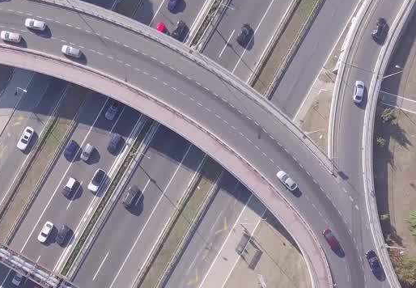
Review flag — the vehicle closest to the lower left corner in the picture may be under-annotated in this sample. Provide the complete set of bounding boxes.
[11,274,24,288]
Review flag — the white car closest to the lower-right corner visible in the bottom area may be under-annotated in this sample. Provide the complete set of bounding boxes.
[276,170,297,191]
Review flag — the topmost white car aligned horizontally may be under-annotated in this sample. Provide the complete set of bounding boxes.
[24,18,46,31]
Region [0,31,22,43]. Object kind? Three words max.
vehicle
